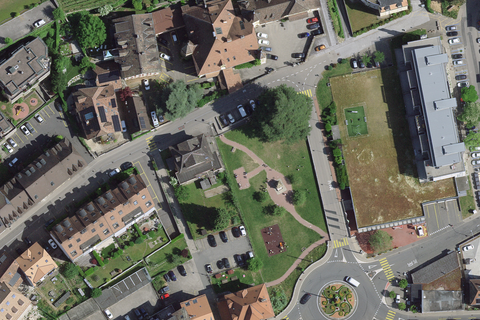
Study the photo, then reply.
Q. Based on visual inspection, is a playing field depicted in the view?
Yes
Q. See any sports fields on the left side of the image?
No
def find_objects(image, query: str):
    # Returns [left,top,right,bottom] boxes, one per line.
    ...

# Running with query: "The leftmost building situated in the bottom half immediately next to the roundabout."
[217,284,274,320]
